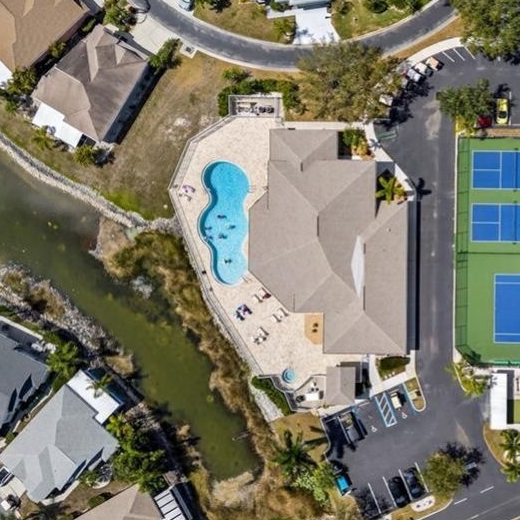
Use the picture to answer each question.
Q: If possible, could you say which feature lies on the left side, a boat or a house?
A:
house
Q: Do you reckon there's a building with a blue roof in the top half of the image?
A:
No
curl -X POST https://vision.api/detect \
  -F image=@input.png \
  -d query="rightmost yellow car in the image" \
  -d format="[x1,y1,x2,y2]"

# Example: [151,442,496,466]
[495,98,509,126]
